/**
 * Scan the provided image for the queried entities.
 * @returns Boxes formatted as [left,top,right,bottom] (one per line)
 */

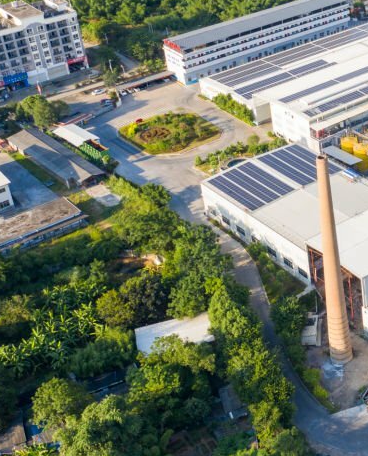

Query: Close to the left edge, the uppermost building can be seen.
[0,0,88,94]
